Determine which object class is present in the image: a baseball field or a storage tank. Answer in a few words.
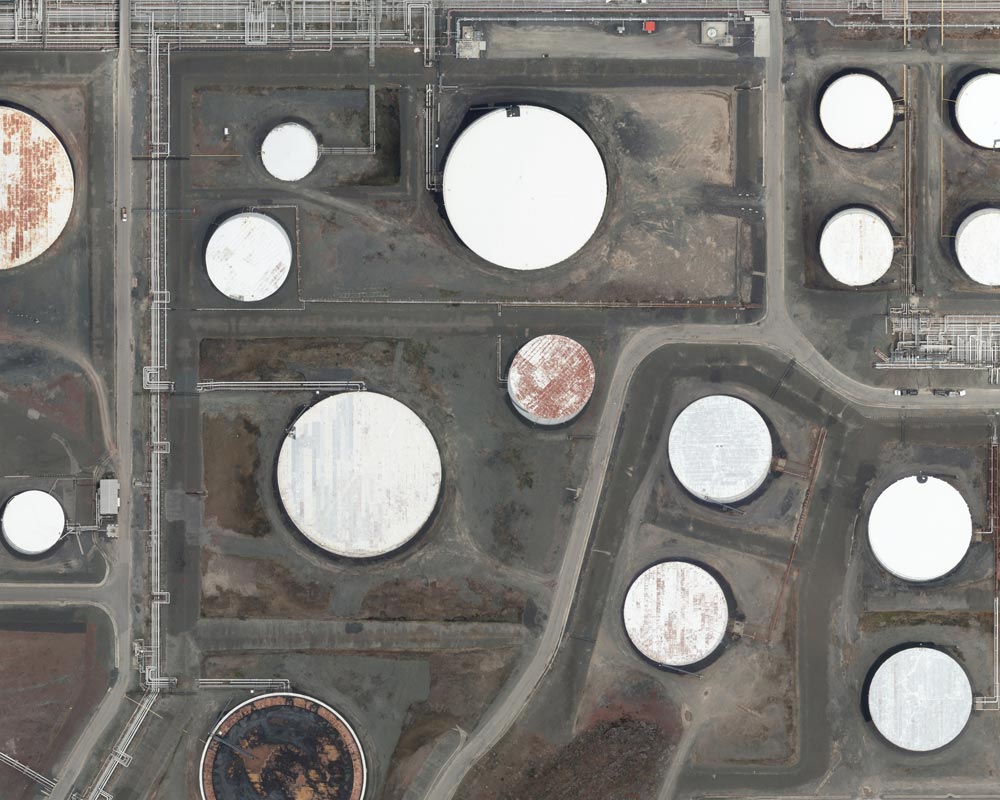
storage tank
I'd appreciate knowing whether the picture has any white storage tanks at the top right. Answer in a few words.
Yes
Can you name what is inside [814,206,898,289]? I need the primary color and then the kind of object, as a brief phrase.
white storage tank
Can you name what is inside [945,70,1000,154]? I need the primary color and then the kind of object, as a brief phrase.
white storage tank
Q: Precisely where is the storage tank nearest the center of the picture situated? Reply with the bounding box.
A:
[504,334,598,428]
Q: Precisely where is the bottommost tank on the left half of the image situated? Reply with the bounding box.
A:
[200,693,368,800]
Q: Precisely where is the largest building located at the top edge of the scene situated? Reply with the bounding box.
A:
[456,26,485,58]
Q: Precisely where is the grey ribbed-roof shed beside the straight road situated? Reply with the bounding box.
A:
[98,480,120,515]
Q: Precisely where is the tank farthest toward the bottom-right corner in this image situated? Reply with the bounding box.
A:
[861,639,972,749]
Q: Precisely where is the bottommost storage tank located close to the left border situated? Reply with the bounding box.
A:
[0,488,68,557]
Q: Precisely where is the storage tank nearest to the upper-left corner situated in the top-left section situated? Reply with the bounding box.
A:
[0,99,82,271]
